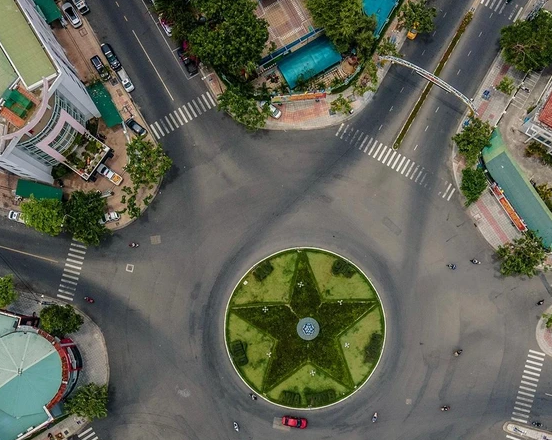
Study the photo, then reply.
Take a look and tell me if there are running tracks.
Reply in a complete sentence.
No, I can see no running track in this picture.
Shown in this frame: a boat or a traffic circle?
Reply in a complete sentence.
The one in the frame is a traffic circle.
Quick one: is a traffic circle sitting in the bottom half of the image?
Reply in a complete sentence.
Yes, in the bottom half of the image there is a traffic circle.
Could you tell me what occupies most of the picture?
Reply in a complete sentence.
The largest share of the image is taken up by paved ground.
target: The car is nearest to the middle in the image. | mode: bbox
[266,102,283,120]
